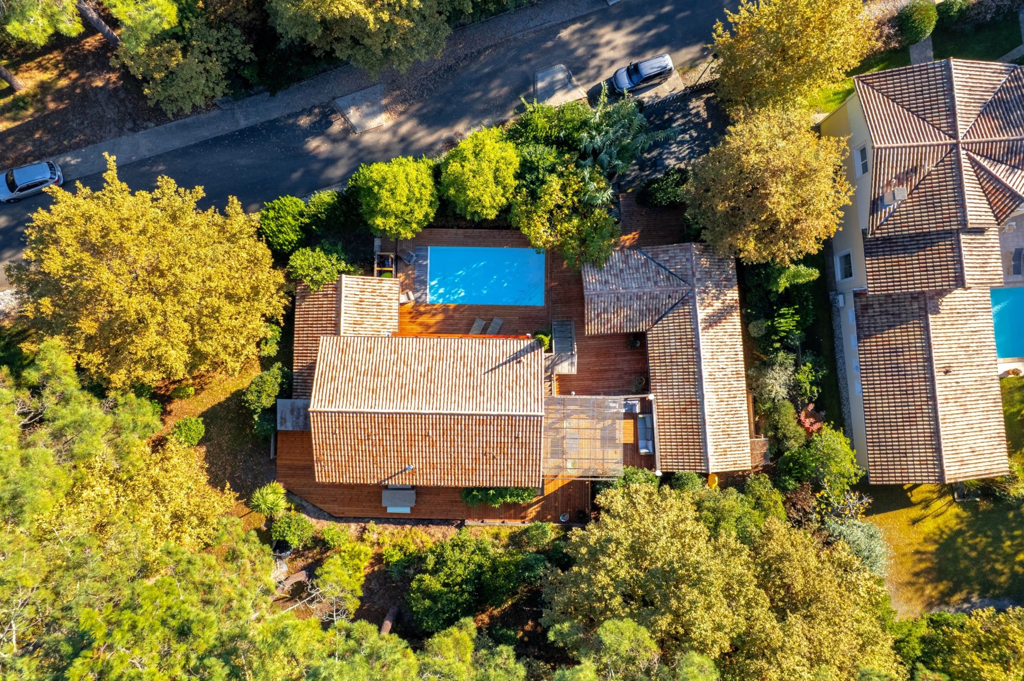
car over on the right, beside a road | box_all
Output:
[611,50,677,96]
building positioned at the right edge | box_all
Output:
[822,58,1024,485]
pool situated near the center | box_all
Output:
[415,246,545,305]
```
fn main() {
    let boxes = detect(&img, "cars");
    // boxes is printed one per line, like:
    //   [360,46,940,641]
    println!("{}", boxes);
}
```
[0,160,62,200]
[611,50,677,96]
